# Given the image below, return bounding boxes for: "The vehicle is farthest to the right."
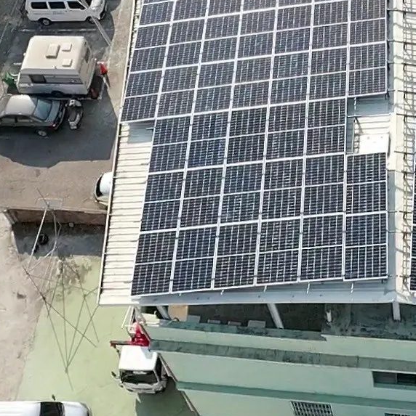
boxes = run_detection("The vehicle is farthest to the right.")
[114,327,174,401]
